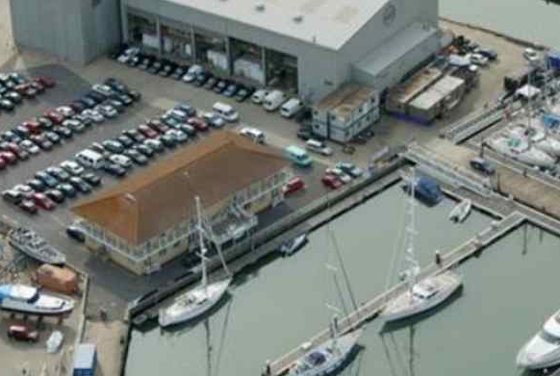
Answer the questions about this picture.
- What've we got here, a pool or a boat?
boat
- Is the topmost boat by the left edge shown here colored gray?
Yes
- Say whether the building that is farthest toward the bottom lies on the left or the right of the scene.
left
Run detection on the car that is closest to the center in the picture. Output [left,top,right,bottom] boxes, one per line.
[286,179,304,192]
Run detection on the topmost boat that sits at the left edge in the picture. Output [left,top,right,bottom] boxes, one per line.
[1,228,67,266]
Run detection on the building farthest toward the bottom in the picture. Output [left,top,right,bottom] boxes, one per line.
[70,131,294,273]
